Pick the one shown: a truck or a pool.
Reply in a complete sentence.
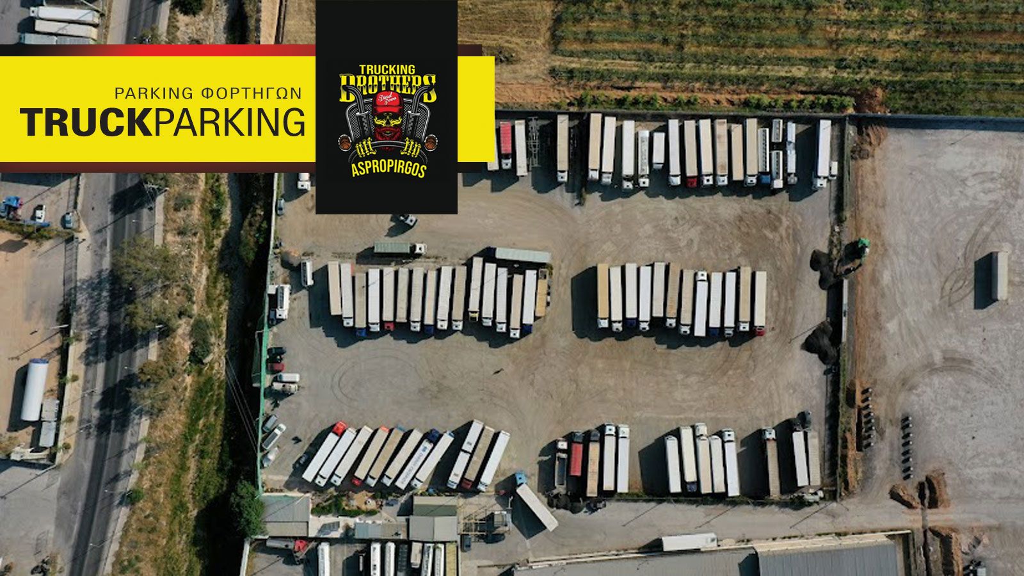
I can see a truck in this picture.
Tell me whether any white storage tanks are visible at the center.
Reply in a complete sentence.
No, at the center there is no white storage tank.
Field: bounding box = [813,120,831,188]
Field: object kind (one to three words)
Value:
vehicle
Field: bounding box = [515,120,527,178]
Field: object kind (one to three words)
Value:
vehicle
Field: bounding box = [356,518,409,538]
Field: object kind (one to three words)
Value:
shed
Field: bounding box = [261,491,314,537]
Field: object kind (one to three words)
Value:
building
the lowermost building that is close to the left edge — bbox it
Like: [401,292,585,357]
[39,420,61,447]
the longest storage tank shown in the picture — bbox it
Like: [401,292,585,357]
[23,359,52,420]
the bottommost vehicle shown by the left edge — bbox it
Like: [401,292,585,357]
[12,447,50,460]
